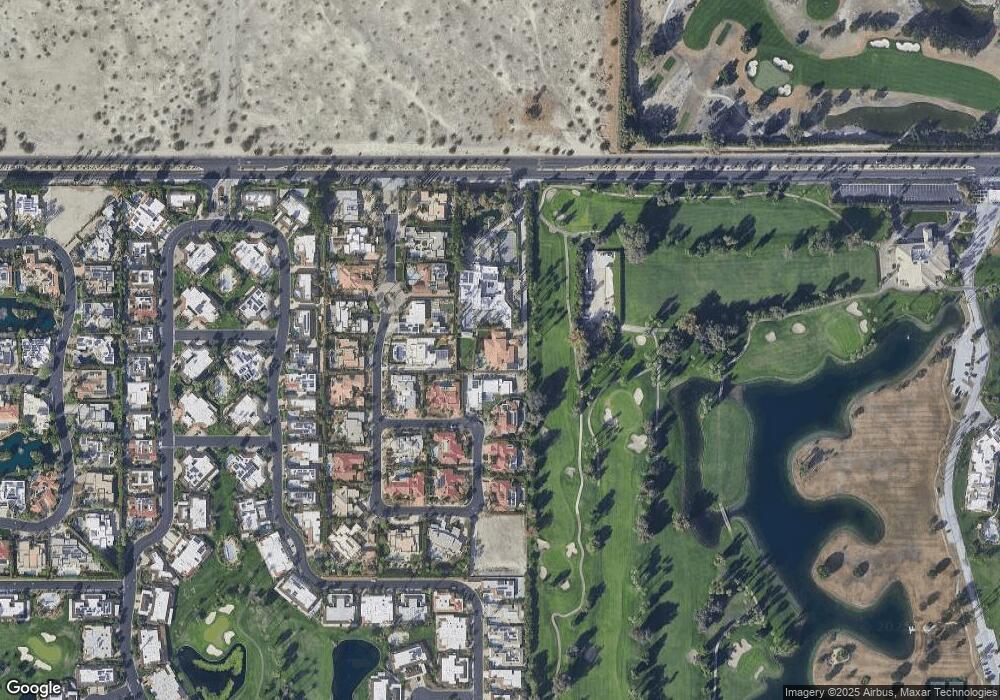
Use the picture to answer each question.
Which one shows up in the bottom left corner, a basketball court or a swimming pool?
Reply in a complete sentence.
Looking in the bottom left corner, you will find a swimming pool.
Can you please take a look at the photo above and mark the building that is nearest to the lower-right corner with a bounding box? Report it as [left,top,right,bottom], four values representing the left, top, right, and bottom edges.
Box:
[967,418,1000,512]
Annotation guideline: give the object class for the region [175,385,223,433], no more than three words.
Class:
house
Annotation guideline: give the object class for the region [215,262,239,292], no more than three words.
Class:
swimming pool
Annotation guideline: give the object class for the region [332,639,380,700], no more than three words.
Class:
pond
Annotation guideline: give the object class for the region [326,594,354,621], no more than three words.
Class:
house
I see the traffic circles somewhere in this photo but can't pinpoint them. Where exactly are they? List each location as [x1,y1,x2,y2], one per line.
[372,281,411,315]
